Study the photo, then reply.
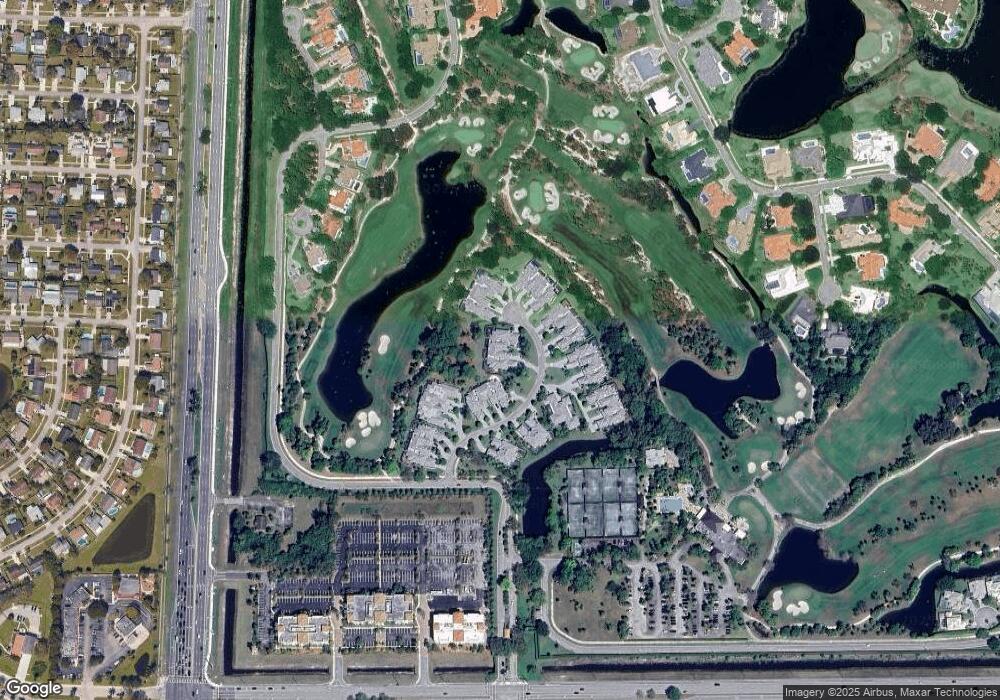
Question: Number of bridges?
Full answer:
There are no bridges in this view.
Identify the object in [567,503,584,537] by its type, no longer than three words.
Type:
tennis court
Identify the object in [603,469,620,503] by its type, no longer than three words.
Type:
tennis court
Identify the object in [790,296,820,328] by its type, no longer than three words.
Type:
house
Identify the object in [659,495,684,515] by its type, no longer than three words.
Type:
swimming pool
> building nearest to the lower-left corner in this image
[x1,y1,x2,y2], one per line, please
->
[11,633,36,655]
